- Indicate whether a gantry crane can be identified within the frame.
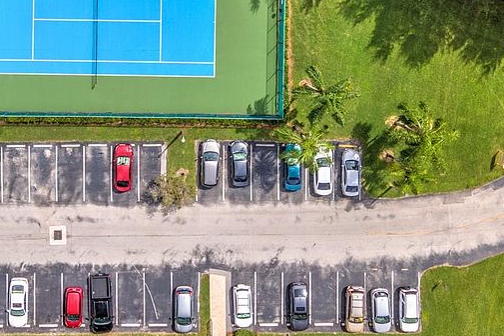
No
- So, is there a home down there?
No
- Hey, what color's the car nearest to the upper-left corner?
red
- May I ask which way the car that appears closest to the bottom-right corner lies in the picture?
from top to bottom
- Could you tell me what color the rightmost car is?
white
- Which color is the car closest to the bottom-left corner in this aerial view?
white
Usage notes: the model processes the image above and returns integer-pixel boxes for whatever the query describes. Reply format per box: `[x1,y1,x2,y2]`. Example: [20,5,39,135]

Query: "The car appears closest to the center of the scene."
[229,140,250,188]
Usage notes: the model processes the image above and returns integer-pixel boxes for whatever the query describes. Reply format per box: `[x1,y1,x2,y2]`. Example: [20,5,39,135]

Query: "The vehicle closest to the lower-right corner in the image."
[396,285,422,334]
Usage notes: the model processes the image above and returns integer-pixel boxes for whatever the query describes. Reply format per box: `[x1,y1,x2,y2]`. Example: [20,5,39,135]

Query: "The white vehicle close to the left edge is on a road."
[6,278,28,328]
